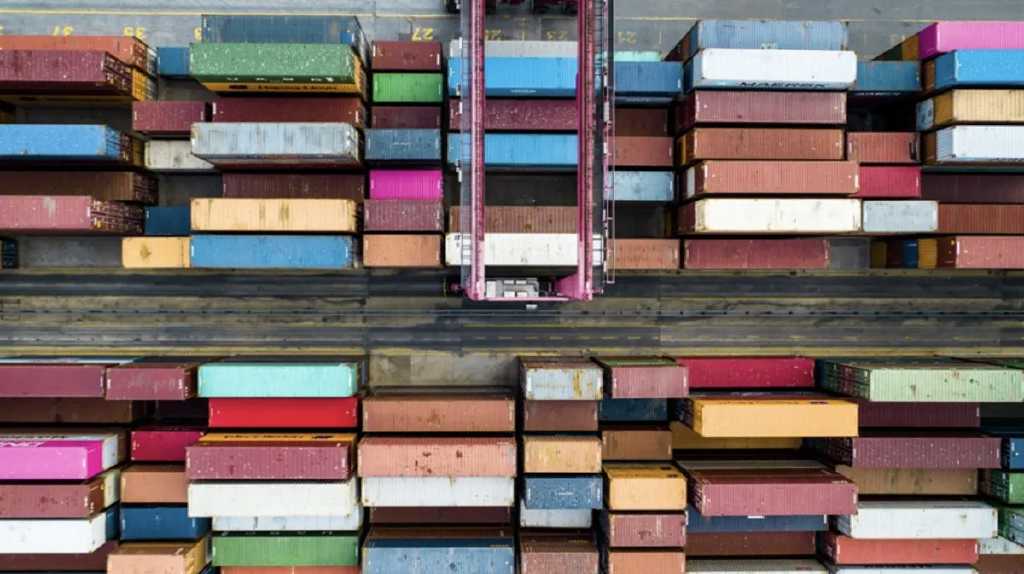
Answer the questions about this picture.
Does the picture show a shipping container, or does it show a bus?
shipping container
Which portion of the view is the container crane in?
top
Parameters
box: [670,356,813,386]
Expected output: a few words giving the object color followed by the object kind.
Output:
red shipping container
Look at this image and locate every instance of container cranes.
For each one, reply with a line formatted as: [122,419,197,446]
[448,0,615,300]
